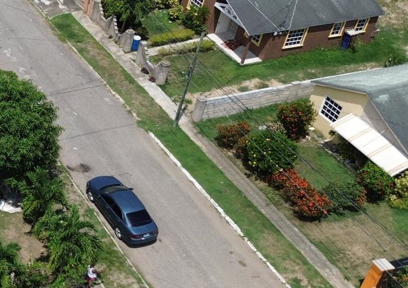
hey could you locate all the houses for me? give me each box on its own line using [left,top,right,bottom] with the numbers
[309,64,408,184]
[184,0,389,66]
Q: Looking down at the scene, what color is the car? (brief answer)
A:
blue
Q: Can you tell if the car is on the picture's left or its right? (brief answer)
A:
left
